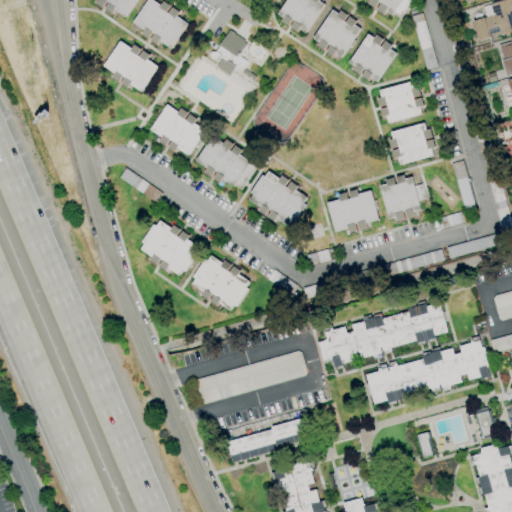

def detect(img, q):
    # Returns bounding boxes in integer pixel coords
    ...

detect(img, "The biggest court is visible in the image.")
[252,64,326,142]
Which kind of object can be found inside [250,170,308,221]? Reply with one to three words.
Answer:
building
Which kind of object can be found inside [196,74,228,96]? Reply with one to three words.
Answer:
swimming pool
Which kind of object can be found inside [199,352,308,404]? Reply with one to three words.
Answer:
building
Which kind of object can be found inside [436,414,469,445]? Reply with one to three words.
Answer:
swimming pool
